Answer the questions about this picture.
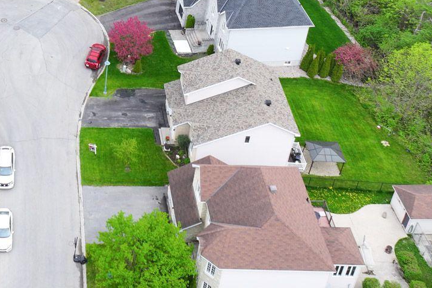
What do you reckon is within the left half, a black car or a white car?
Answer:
white car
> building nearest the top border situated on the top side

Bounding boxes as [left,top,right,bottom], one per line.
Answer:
[173,0,315,70]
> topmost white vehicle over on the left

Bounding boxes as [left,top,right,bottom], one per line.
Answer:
[0,149,18,191]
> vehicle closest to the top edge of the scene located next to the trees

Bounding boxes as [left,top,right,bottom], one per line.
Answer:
[82,43,108,73]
